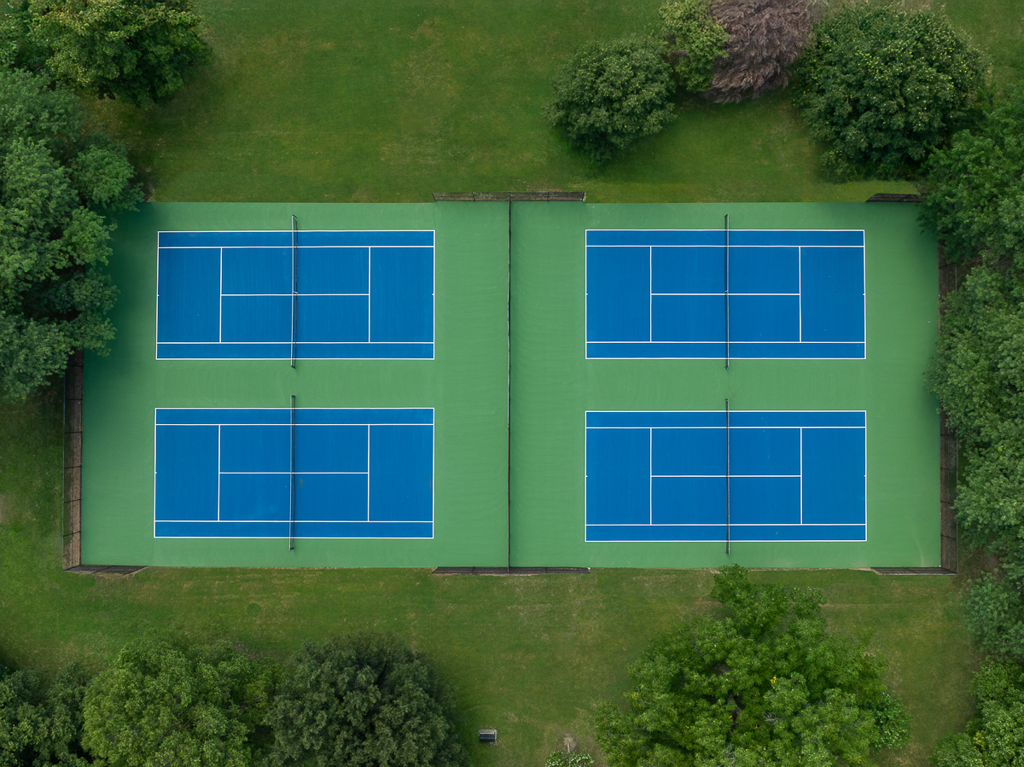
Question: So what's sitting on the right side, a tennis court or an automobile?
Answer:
tennis court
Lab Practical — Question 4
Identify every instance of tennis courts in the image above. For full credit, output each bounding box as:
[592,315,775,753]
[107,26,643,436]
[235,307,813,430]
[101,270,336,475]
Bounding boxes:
[586,411,867,541]
[155,408,433,538]
[157,231,434,359]
[586,230,865,358]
